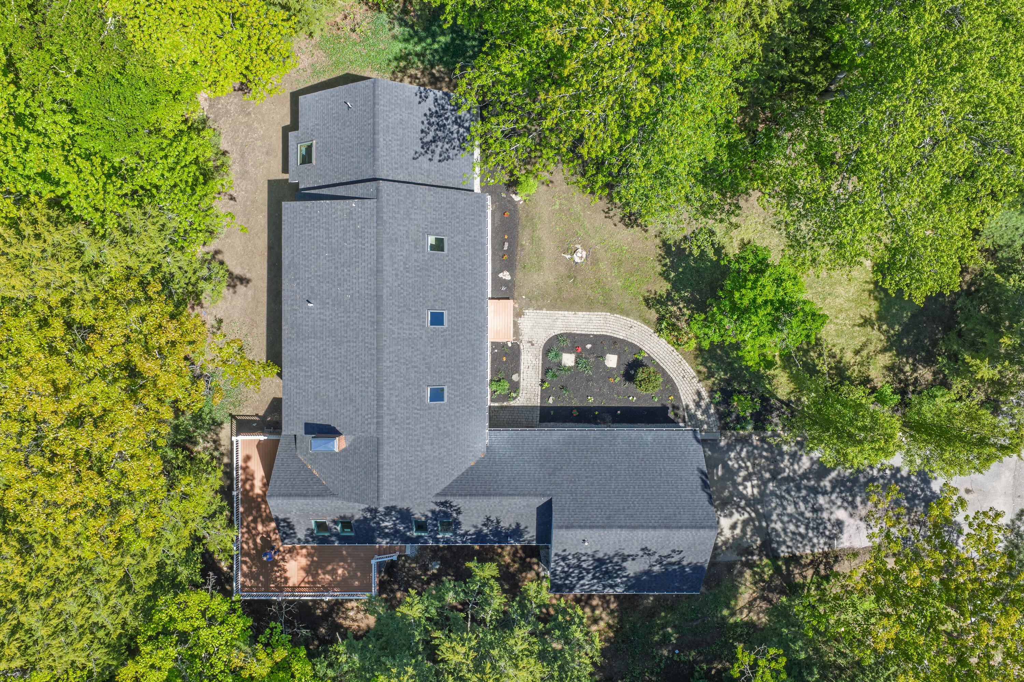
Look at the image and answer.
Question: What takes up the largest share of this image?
trees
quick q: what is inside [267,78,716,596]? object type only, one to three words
house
